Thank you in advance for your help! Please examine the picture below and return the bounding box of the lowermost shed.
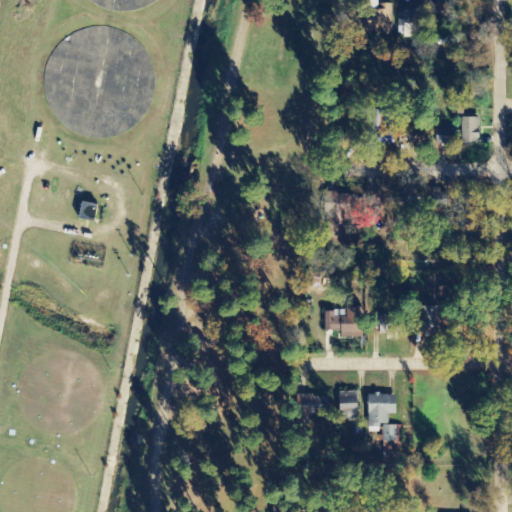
[383,424,402,442]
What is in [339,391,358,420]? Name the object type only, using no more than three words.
house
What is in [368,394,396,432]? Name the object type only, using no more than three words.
house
